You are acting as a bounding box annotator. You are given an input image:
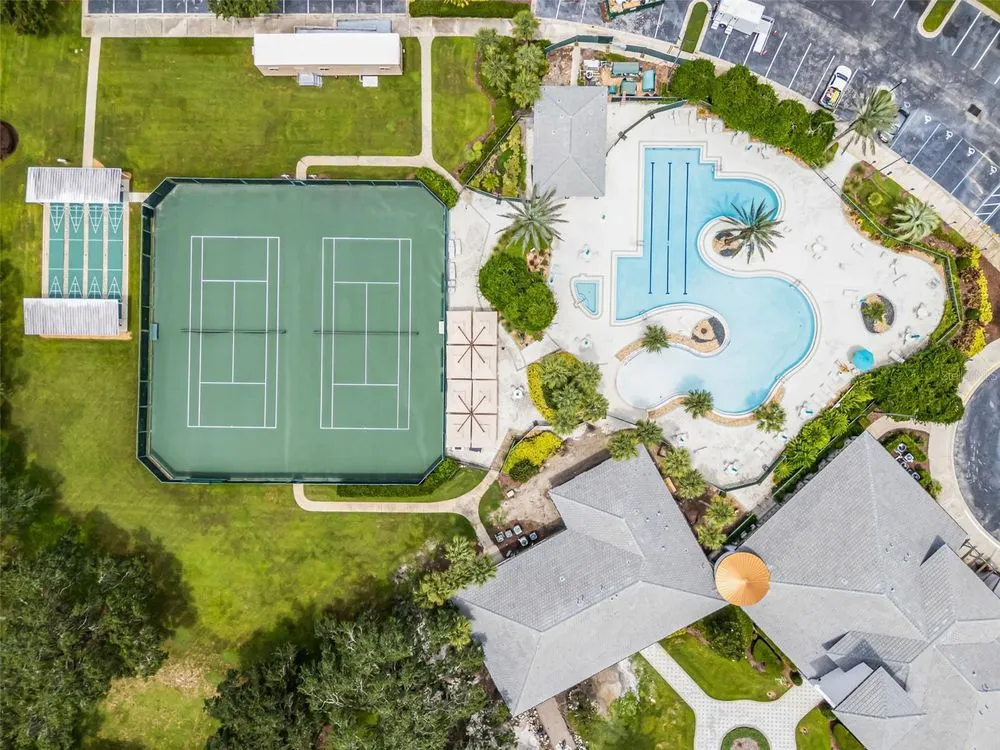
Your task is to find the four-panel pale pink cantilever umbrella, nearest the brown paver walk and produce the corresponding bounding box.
[445,378,498,448]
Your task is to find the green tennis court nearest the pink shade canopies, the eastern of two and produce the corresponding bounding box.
[300,187,446,480]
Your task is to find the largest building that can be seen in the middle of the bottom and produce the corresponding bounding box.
[453,444,725,717]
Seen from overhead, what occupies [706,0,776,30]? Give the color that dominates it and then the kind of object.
white truck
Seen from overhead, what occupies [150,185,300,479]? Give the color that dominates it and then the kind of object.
green tennis court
